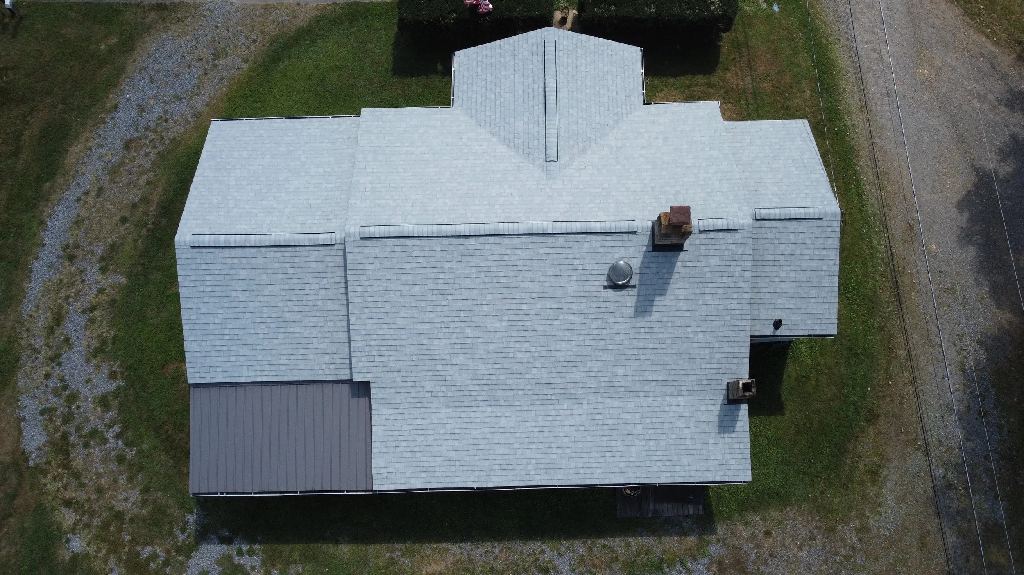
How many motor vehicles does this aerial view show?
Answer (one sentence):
No motor vehicles are visible.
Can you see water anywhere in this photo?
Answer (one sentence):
No, the picture contains no water.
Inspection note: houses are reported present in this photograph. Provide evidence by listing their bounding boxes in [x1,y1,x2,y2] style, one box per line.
[175,27,851,499]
